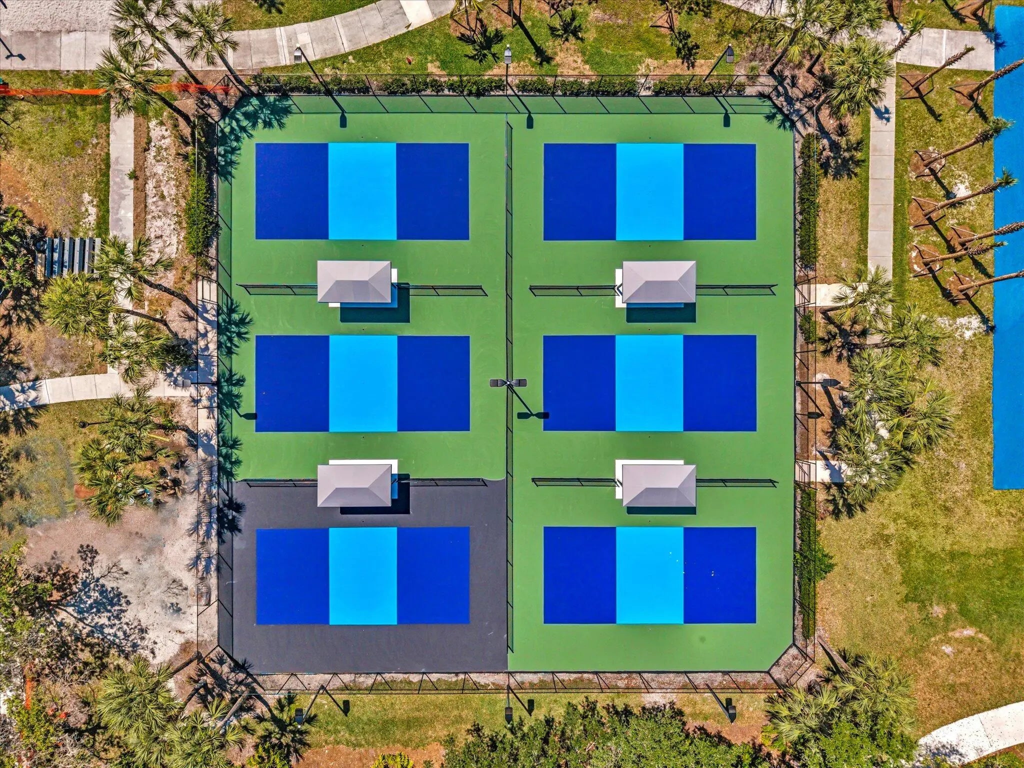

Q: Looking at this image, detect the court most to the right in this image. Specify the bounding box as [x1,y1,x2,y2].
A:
[992,6,1024,489]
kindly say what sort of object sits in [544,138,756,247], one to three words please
sports court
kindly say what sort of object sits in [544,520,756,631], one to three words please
sports court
